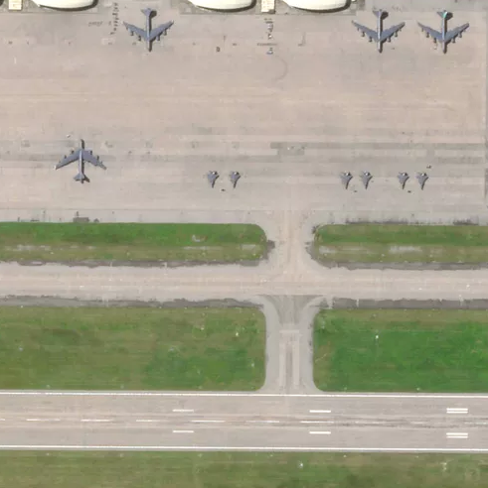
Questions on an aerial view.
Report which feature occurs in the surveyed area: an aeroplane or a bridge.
aeroplane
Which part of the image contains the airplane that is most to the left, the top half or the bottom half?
top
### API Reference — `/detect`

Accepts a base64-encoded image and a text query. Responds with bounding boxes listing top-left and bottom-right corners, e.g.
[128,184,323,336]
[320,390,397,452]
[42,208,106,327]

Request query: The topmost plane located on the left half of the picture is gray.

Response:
[123,7,175,51]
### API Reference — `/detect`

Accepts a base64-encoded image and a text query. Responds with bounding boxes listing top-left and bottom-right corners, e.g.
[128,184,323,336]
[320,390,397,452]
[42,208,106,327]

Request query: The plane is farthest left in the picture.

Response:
[56,140,107,183]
